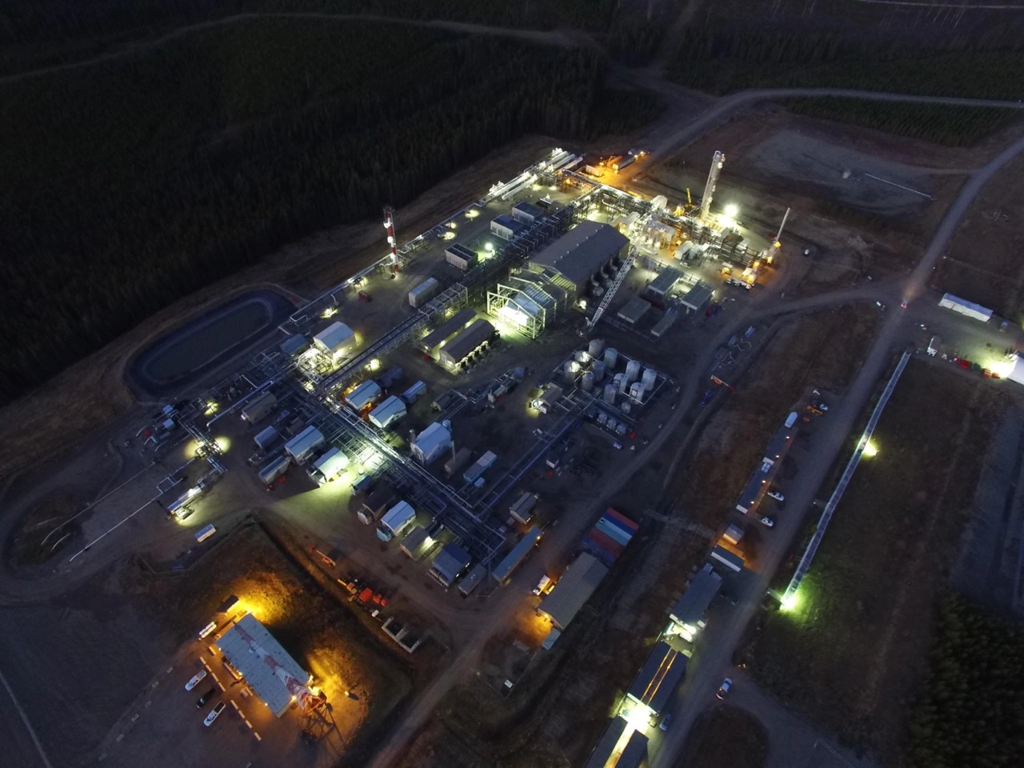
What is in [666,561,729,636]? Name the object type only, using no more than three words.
building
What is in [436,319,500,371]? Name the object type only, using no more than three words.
shed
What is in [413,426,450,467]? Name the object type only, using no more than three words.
building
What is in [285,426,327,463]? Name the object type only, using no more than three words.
shed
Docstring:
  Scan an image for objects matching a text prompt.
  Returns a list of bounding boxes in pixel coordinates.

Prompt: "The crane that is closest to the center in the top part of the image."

[572,244,639,334]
